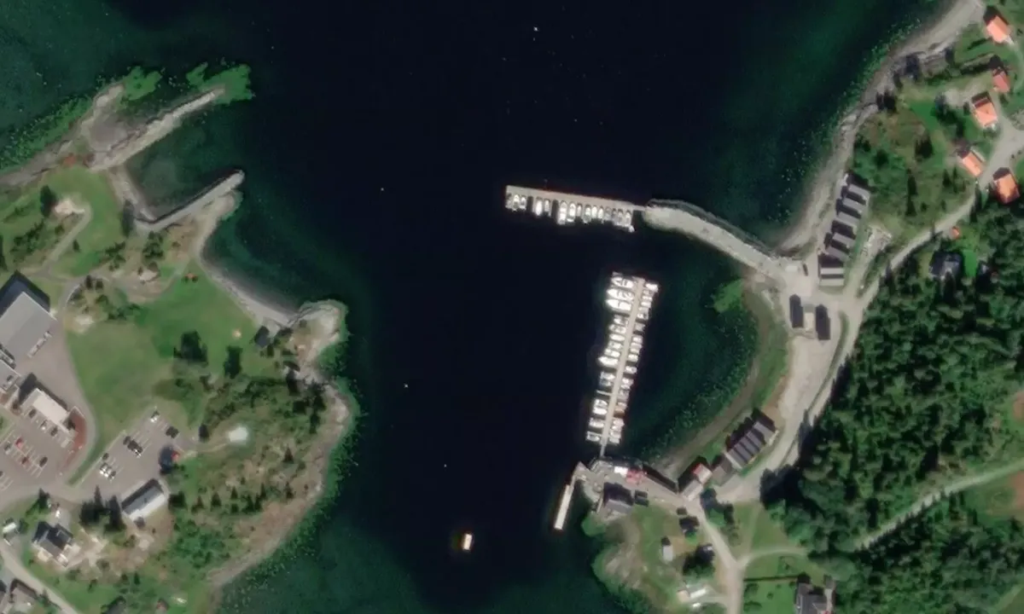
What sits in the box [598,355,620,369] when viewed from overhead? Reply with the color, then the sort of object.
white boat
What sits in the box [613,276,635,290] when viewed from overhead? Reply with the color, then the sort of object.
white boat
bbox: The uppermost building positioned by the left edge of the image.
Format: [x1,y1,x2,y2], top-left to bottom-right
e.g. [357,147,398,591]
[0,292,56,364]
